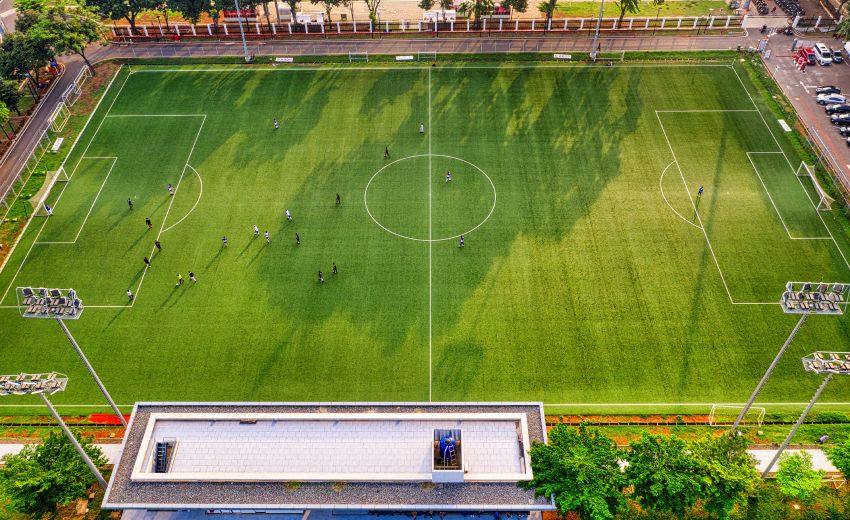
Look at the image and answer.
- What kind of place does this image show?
sports ground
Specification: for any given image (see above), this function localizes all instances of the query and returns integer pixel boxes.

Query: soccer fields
[0,58,850,417]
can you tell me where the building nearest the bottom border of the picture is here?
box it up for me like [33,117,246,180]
[101,402,556,513]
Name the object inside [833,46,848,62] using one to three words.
car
